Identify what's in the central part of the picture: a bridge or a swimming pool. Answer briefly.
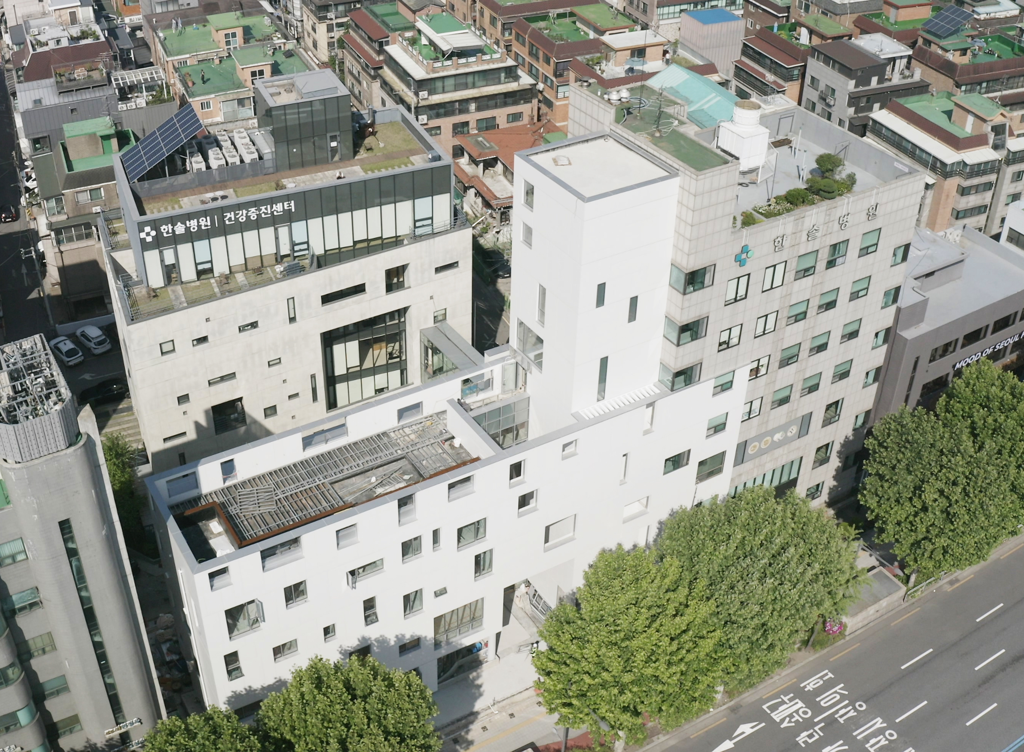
bridge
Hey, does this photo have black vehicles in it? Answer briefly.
Yes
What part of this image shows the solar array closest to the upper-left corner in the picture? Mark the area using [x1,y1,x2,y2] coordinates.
[122,103,204,191]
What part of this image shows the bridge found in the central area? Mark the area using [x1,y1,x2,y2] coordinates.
[420,322,485,397]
